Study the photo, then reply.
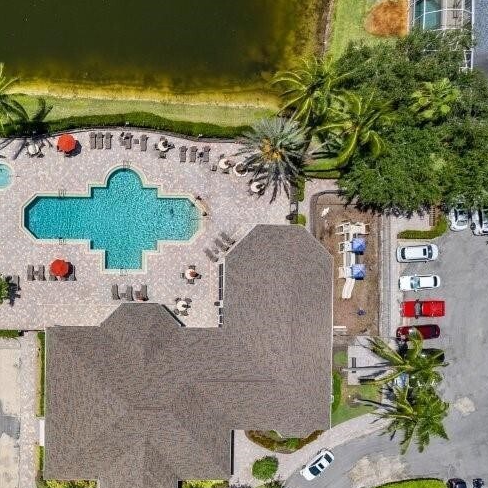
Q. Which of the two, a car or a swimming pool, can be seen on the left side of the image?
swimming pool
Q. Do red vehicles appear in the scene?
Yes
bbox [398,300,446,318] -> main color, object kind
red vehicle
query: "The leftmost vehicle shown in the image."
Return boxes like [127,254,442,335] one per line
[298,448,334,481]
